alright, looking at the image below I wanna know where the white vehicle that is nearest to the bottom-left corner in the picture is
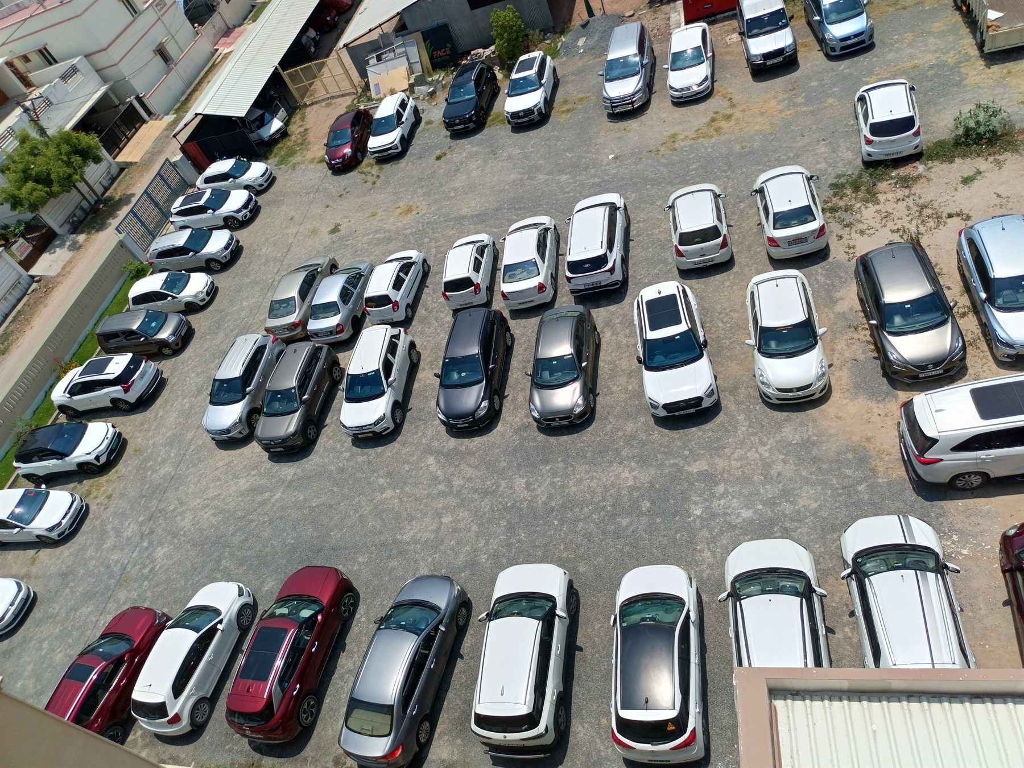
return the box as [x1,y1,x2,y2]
[0,576,36,637]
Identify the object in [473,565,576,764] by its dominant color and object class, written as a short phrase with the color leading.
white car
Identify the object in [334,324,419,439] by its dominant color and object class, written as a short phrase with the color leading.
white car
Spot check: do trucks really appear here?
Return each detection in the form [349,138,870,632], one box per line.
[679,0,733,29]
[957,0,1024,52]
